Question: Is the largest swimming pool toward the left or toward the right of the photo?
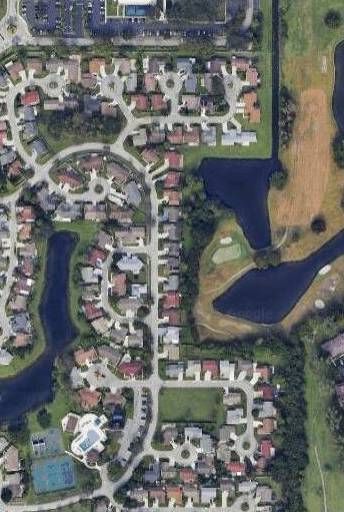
left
